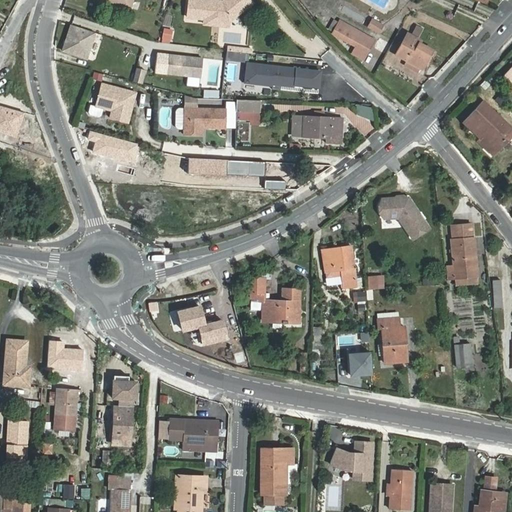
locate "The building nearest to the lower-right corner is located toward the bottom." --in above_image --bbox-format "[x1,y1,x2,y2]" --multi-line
[474,476,509,512]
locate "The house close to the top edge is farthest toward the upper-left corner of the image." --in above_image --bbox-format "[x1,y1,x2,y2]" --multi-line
[62,24,96,59]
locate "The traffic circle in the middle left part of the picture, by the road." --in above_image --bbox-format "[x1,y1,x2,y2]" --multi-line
[68,230,144,307]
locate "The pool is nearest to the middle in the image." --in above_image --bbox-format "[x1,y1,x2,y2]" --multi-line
[336,335,356,347]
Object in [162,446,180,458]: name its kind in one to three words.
swimming pool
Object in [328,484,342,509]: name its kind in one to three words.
swimming pool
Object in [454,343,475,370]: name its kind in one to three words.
building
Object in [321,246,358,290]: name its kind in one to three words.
house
